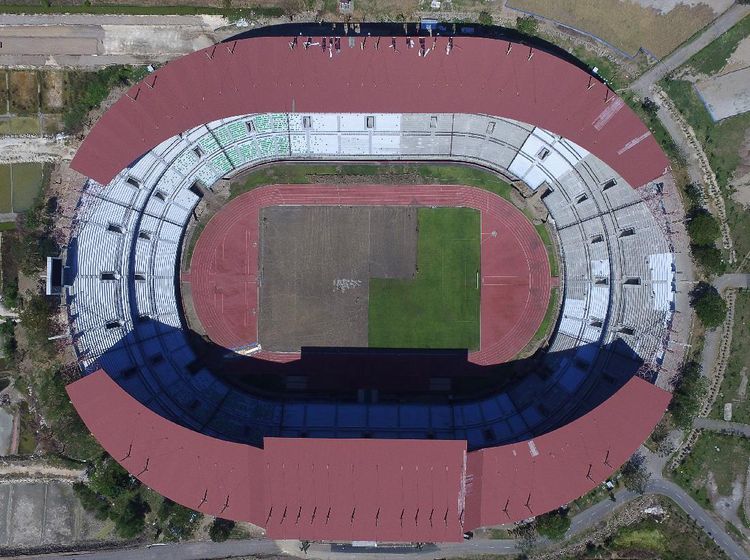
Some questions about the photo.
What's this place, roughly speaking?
sports ground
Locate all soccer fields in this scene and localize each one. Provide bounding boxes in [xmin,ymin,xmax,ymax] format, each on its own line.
[259,206,480,353]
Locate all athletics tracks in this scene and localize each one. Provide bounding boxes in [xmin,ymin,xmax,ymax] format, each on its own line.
[179,184,561,371]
